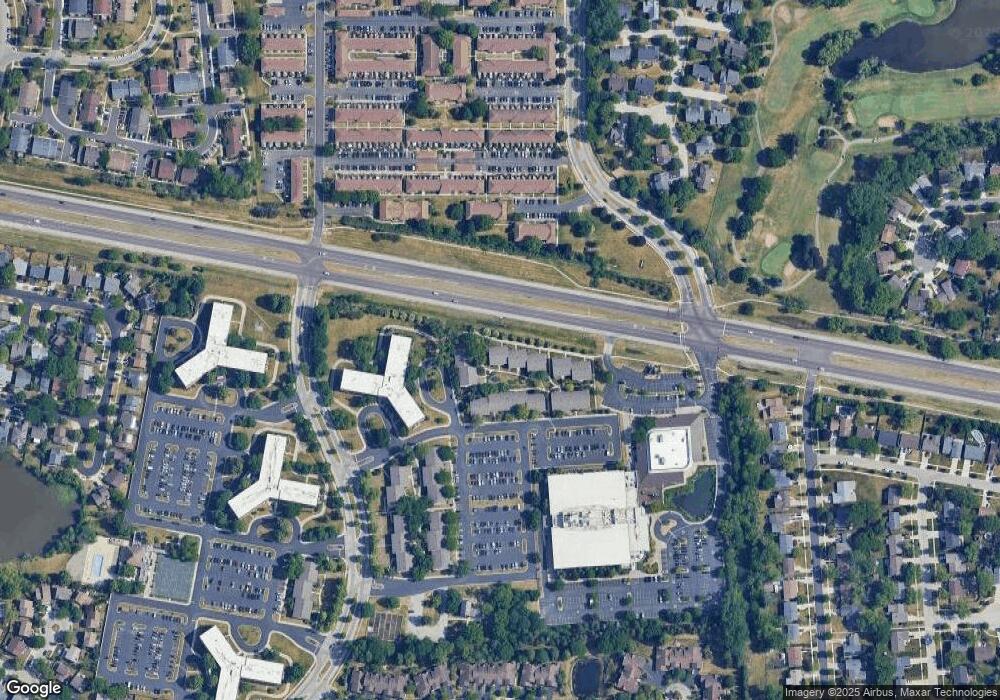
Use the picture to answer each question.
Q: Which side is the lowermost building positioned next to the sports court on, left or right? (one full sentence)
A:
The lowermost building positioned next to the sports court sits on the left side.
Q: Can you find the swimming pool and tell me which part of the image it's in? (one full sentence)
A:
The swimming pool is in the bottom left part of the image.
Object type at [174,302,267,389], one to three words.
building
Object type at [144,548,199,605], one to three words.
sports court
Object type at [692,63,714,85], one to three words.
house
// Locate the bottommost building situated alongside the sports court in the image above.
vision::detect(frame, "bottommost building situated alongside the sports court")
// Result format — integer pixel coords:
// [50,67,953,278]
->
[199,626,284,700]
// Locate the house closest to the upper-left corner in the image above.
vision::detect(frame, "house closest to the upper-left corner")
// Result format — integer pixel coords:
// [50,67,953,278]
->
[26,3,44,32]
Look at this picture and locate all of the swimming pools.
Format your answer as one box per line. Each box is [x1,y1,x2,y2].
[67,535,119,583]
